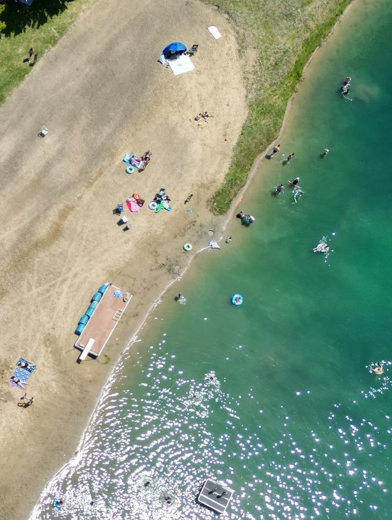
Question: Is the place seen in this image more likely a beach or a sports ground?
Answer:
beach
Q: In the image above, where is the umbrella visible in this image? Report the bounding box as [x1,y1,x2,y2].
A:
[164,37,190,53]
